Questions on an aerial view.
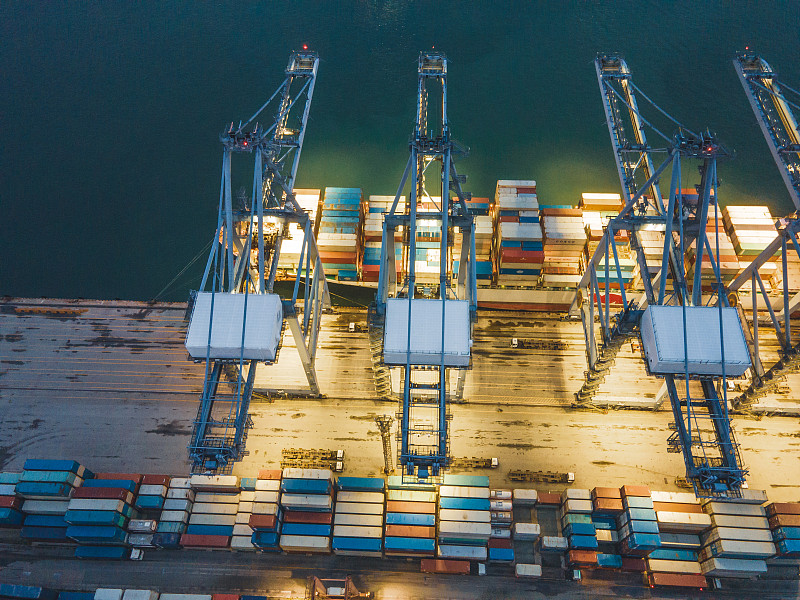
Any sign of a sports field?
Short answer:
No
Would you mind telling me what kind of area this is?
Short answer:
port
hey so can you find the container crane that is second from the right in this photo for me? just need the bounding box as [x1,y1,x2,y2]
[556,43,753,495]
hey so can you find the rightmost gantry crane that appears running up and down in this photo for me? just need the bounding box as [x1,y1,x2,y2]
[722,43,800,412]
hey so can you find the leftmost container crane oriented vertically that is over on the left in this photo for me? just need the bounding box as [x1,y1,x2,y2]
[177,44,346,478]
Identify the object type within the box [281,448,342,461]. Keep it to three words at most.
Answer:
vehicle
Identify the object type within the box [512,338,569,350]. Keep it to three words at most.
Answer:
vehicle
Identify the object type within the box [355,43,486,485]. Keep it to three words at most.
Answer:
container crane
